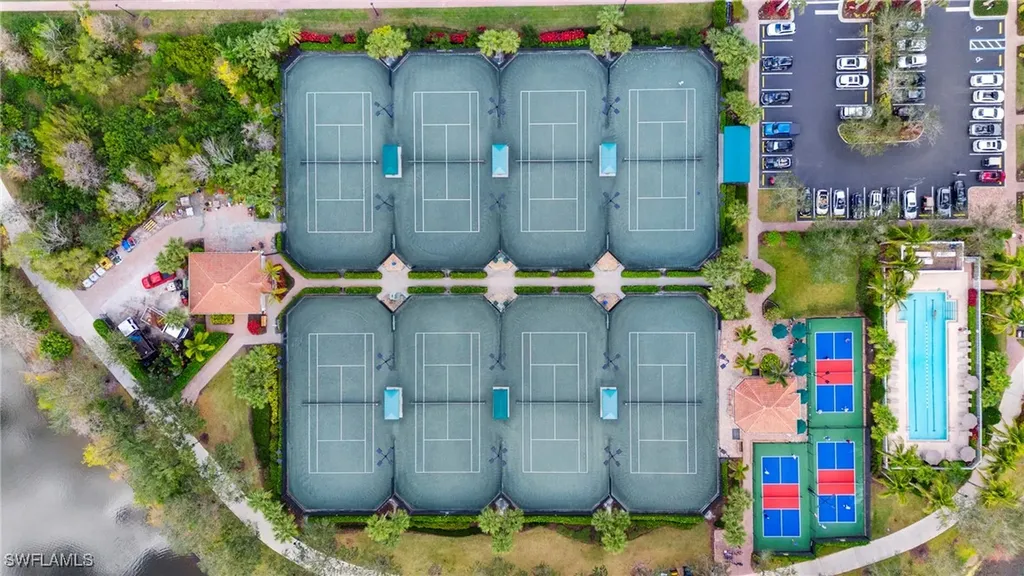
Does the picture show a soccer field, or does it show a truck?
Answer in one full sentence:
Of the two, only a truck appears.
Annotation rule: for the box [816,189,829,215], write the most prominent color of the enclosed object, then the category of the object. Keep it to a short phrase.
white vehicle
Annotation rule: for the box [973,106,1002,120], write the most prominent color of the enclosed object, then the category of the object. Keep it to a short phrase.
white car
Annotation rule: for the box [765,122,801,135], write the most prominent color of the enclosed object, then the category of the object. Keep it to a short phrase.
blue vehicle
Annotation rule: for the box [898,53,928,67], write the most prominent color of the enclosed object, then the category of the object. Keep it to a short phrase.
white car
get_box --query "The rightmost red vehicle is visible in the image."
[977,169,1006,183]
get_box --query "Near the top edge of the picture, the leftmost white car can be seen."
[767,21,796,35]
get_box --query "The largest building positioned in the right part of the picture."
[730,376,801,433]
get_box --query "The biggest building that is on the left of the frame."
[189,252,271,314]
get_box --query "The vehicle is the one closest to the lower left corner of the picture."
[116,319,156,363]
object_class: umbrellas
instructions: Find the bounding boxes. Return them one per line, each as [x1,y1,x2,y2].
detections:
[959,412,978,429]
[923,449,941,465]
[796,419,808,434]
[791,341,807,356]
[957,446,975,462]
[960,376,978,390]
[791,360,807,375]
[772,323,788,339]
[799,389,809,404]
[791,322,807,338]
